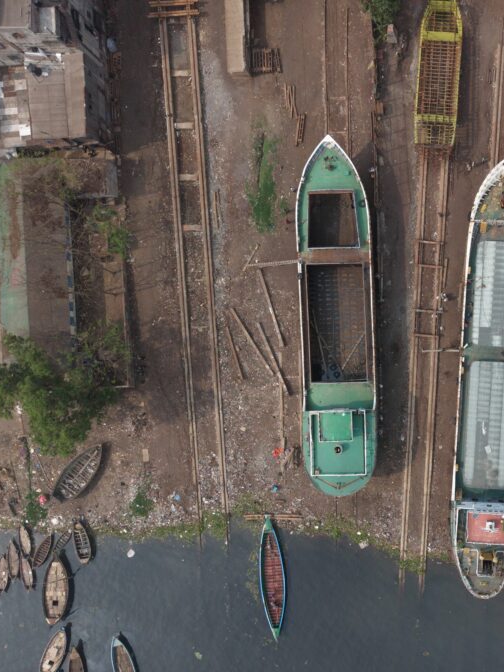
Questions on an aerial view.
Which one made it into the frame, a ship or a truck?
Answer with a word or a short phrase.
ship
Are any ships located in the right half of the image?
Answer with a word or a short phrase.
Yes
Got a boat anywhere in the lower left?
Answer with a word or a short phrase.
Yes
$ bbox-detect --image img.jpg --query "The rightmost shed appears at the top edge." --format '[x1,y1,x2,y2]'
[226,0,254,82]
